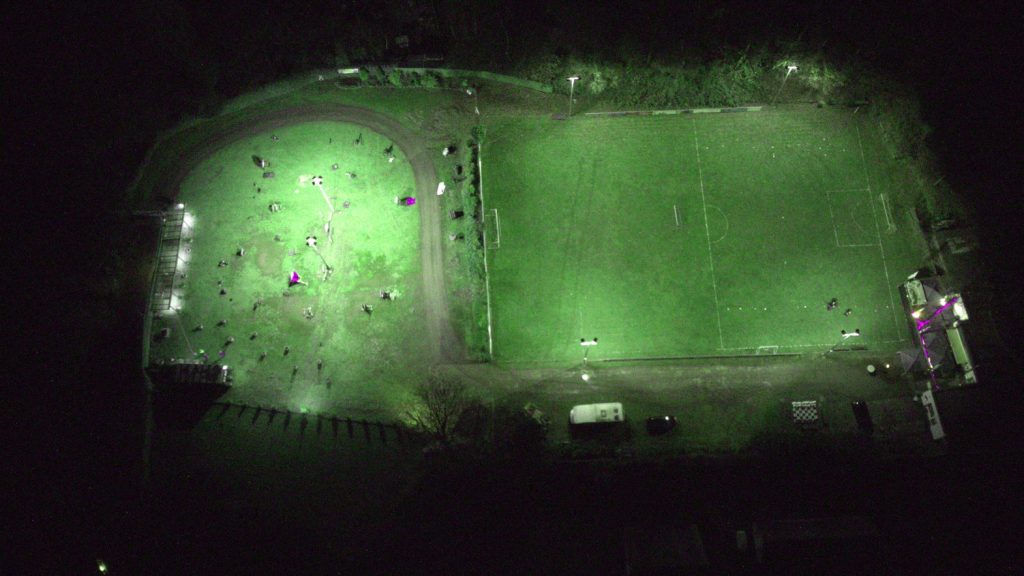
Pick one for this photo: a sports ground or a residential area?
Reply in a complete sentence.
The picture captures a sports ground.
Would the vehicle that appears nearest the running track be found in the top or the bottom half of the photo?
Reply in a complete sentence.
It is in the bottom half that the vehicle that appears nearest the running track appears.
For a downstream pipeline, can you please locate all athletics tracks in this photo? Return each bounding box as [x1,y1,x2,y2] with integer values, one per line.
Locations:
[160,100,449,367]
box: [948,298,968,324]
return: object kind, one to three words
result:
building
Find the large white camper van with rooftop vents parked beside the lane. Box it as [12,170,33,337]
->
[568,402,625,427]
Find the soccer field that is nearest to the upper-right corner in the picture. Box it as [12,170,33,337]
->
[482,107,906,364]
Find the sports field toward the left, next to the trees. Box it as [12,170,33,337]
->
[148,122,469,436]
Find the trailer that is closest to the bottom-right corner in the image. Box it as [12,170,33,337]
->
[923,385,950,436]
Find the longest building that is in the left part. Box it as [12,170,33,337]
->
[148,365,234,389]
